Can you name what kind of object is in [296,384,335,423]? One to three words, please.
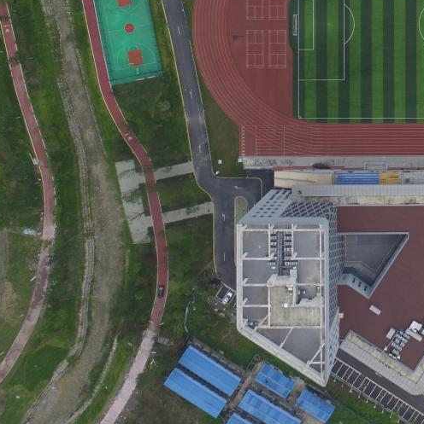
shed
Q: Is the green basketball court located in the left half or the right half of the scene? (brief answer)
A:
left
